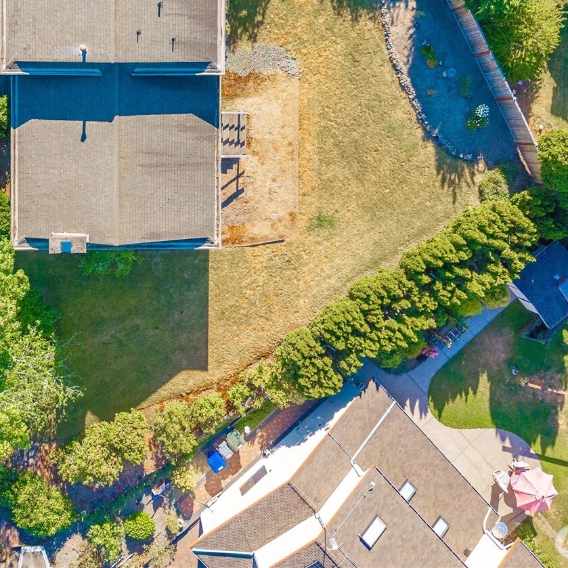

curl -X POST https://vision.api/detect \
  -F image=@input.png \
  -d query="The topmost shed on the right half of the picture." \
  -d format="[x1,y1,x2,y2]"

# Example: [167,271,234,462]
[507,241,568,329]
